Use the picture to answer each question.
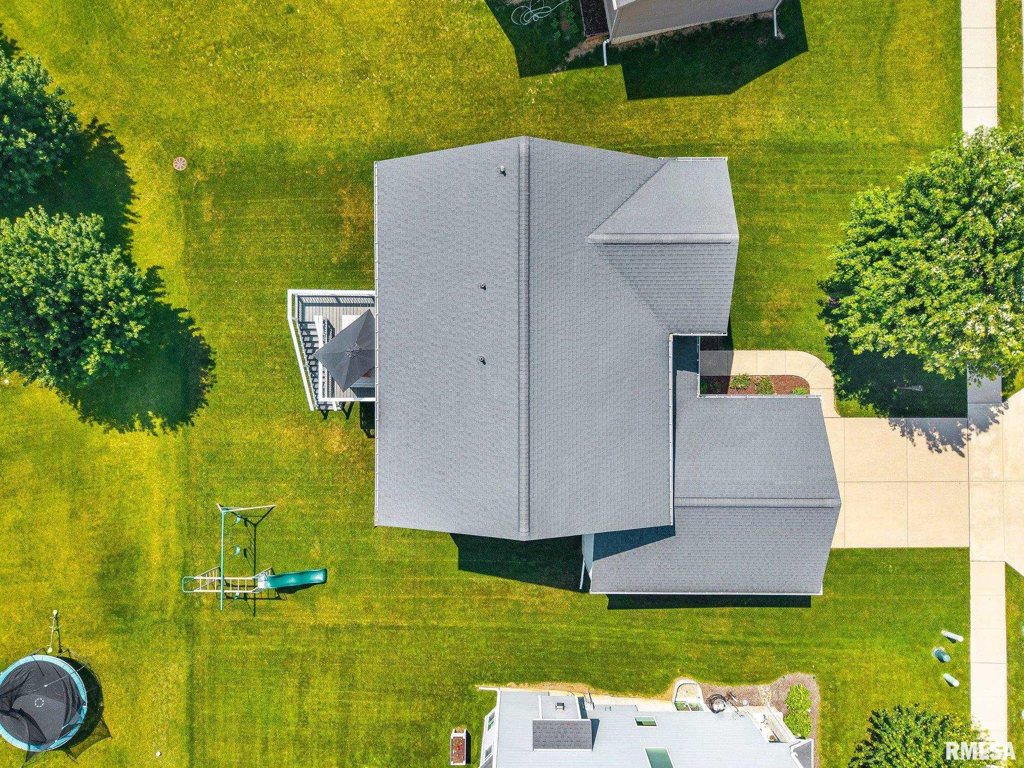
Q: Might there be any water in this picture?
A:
No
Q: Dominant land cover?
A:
grass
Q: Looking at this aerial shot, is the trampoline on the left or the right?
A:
left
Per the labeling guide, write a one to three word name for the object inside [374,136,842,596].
house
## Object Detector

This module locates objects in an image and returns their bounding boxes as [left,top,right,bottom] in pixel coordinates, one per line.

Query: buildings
[478,685,817,768]
[603,0,785,65]
[374,136,842,596]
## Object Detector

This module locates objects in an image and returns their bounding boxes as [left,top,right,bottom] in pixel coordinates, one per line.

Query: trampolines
[0,648,99,762]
